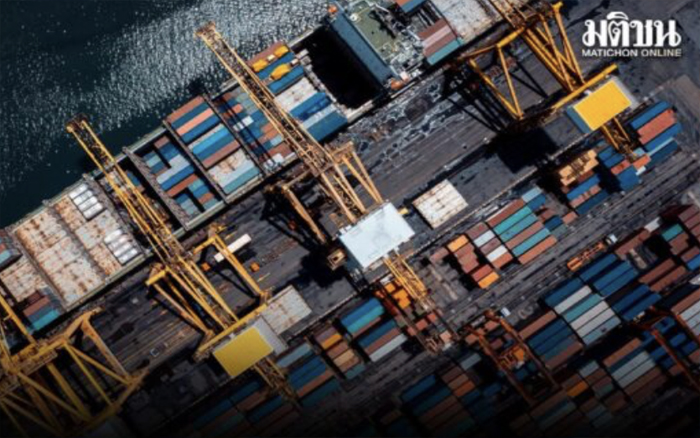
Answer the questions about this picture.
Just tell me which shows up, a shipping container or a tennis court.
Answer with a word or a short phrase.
shipping container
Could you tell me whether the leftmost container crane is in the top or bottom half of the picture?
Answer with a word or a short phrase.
bottom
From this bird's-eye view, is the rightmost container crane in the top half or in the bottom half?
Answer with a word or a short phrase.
bottom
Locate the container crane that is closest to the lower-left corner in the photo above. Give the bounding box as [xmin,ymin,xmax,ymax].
[0,284,145,438]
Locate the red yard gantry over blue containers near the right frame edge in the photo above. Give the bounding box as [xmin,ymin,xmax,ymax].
[625,306,700,398]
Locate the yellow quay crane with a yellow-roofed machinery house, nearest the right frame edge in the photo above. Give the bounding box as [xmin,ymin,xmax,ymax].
[457,0,646,168]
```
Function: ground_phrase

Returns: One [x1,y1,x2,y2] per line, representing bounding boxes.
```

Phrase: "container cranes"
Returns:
[457,0,646,168]
[55,112,299,404]
[367,267,457,354]
[200,21,435,311]
[625,306,700,398]
[448,300,555,405]
[0,284,145,438]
